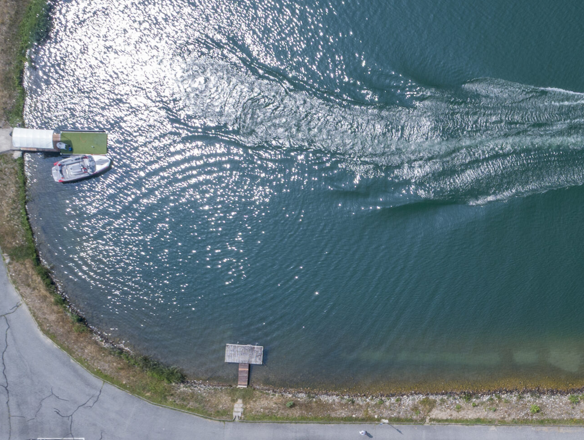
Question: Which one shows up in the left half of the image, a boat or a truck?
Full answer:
There is a boat in the left half of the image.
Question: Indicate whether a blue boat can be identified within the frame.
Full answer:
No, no blue boat is visible in the view.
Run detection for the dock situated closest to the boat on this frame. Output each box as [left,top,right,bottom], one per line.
[61,130,109,155]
